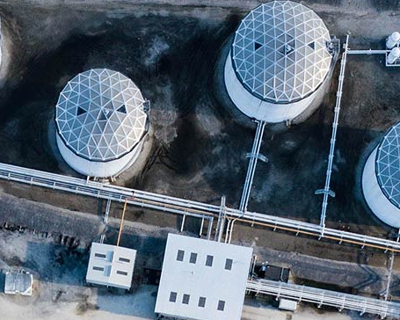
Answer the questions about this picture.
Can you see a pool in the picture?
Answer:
No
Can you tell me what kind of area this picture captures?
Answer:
industrial area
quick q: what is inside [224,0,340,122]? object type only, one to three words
storage tank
